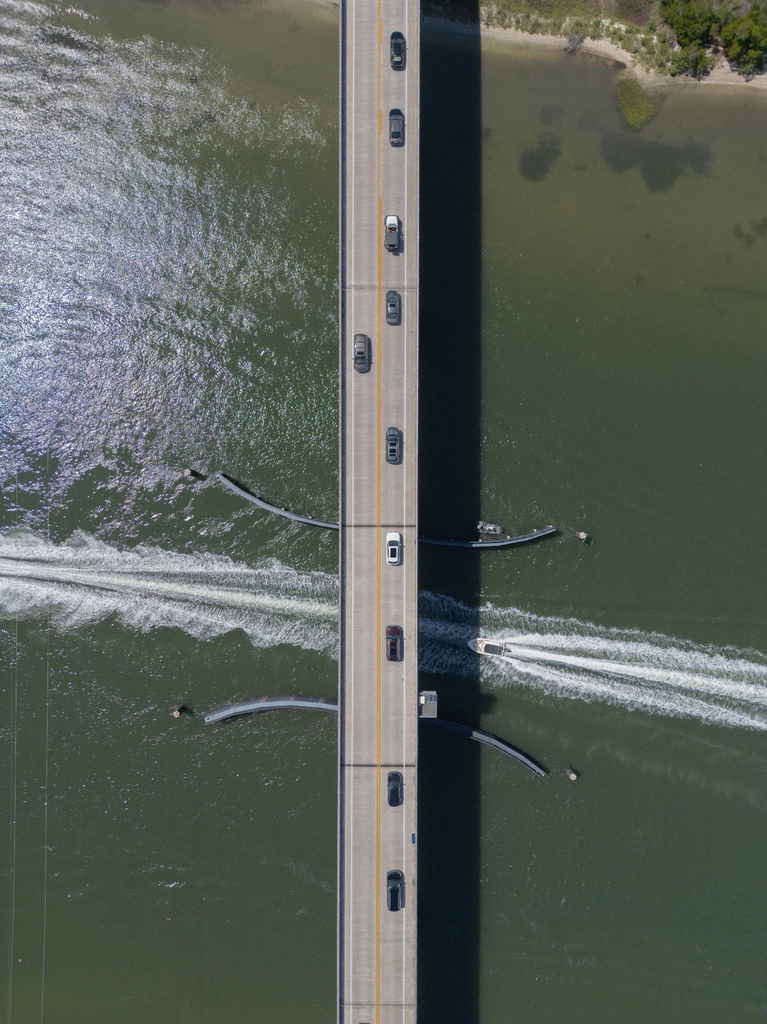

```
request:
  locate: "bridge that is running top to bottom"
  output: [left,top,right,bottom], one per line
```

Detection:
[337,0,420,1024]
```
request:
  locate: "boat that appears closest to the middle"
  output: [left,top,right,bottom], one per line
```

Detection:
[476,521,504,534]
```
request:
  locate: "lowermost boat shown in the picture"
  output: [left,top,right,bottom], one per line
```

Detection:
[467,639,508,656]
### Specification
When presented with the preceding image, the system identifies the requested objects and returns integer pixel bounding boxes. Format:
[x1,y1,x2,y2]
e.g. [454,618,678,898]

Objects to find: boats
[476,521,504,534]
[467,639,508,656]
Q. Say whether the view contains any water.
Yes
